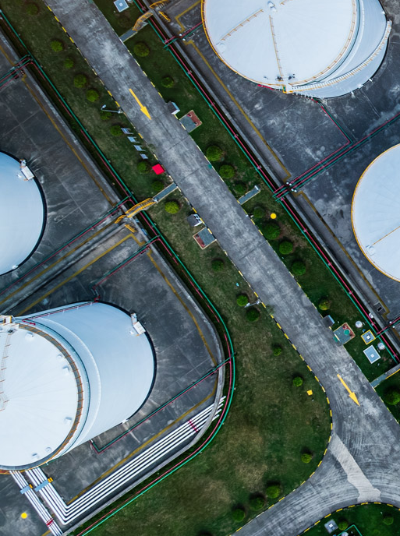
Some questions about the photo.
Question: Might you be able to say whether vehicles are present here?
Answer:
No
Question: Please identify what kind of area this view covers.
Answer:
industrial area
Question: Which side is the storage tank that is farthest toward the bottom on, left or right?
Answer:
left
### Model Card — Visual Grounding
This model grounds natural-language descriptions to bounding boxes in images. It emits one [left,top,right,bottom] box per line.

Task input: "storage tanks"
[349,142,400,285]
[0,301,154,482]
[0,150,46,277]
[202,0,391,99]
